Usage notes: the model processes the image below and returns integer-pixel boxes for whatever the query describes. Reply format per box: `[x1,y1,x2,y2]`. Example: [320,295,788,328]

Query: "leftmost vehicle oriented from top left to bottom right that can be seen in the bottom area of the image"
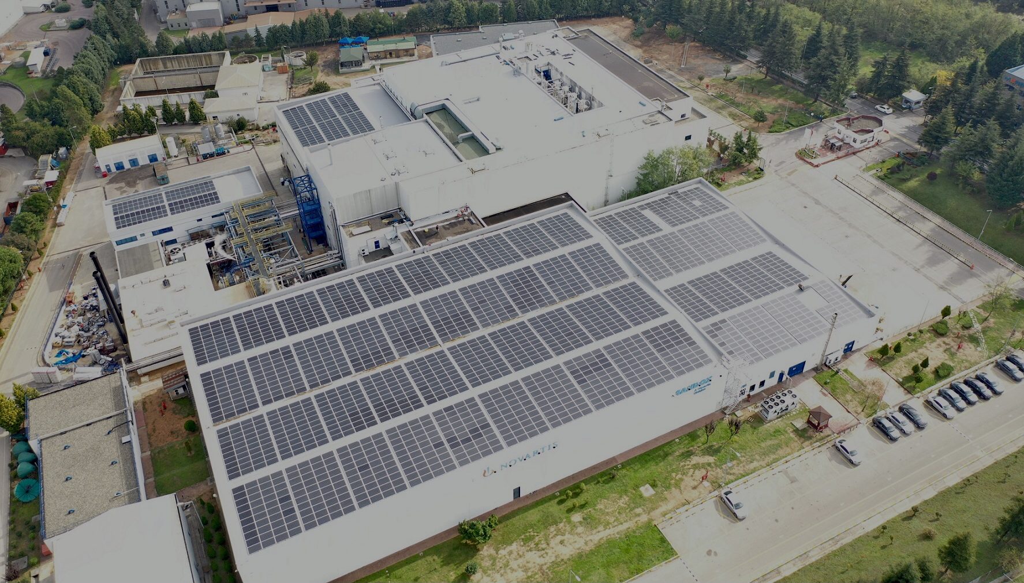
[719,491,749,521]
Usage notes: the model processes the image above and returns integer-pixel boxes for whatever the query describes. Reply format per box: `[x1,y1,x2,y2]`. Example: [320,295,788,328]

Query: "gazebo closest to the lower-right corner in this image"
[807,406,835,433]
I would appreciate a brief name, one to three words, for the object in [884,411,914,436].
car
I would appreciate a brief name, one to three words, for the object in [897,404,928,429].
car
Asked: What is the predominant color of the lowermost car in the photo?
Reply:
white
